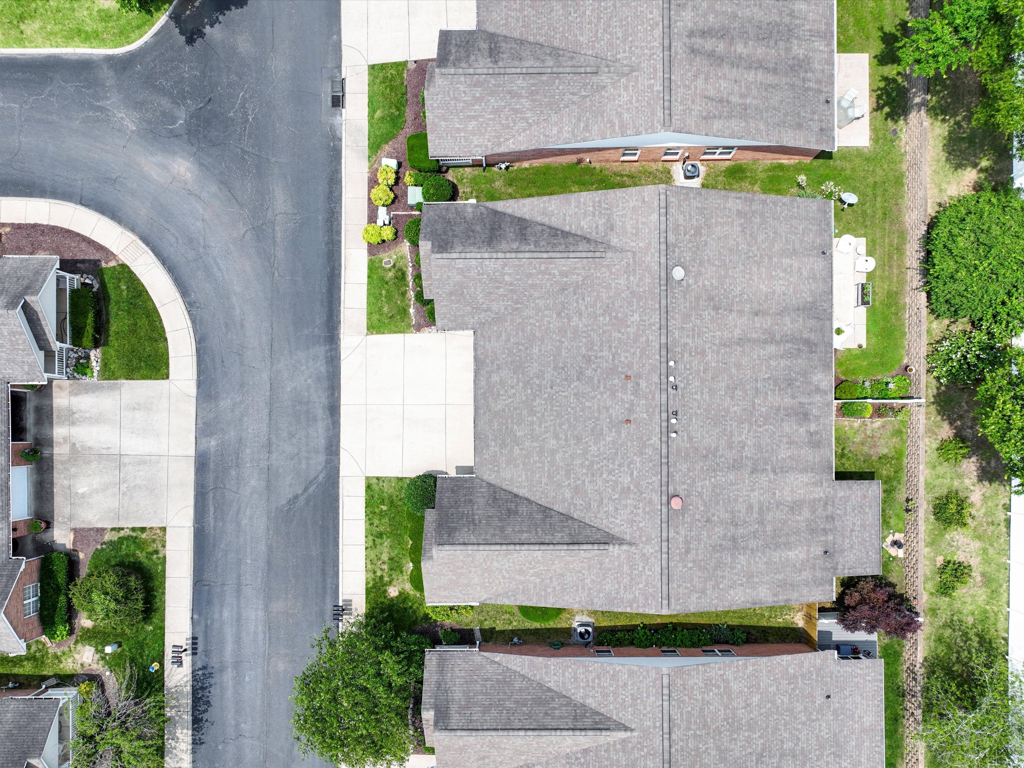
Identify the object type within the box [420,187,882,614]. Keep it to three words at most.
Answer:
house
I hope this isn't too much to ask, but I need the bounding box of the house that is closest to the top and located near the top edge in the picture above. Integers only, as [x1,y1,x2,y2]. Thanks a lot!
[423,0,838,175]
